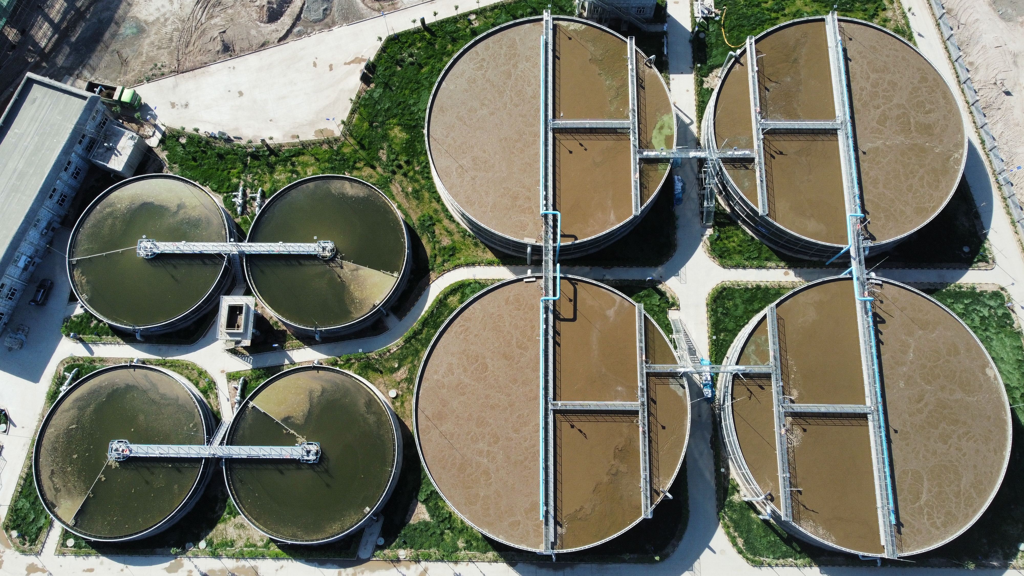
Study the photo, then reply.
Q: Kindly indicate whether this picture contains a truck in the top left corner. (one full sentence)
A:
Yes, I can see a truck in the top left corner.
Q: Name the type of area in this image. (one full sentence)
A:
It's an industrial area.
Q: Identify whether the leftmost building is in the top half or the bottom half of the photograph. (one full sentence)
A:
You can find the leftmost building in the top half.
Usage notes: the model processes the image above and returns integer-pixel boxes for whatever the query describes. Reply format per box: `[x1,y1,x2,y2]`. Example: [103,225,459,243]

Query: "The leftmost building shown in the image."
[0,63,117,333]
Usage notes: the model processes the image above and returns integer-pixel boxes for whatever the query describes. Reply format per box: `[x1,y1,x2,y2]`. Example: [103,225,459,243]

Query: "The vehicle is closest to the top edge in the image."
[82,76,146,109]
